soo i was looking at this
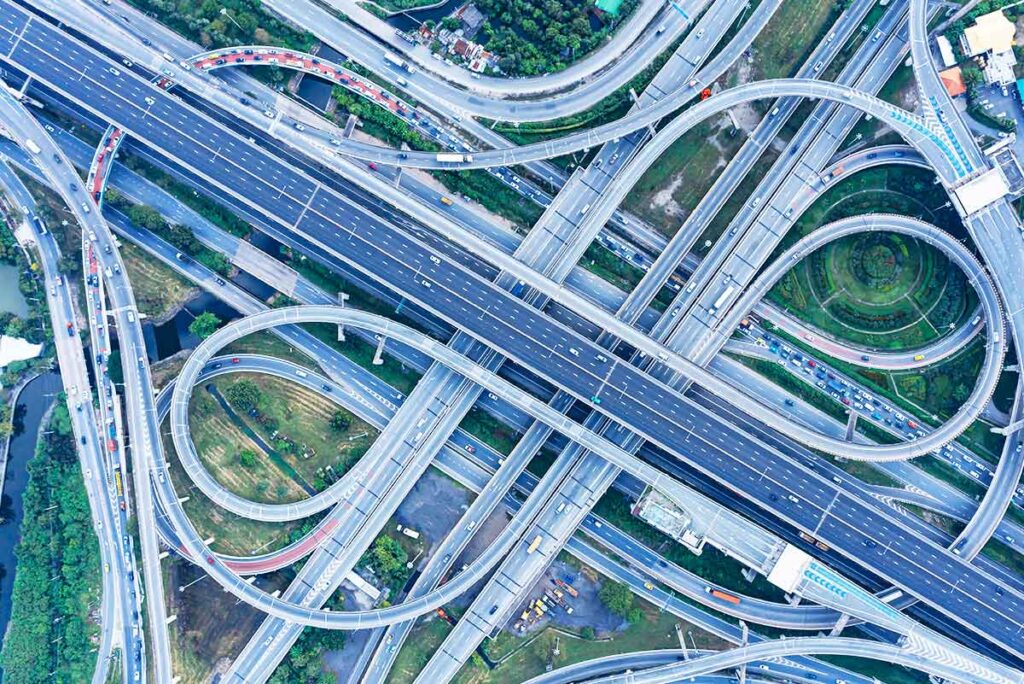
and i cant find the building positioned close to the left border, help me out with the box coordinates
[0,335,48,368]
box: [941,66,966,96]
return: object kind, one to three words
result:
building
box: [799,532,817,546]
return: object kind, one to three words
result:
vehicle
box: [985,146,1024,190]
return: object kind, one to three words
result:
building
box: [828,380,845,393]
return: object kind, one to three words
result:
vehicle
